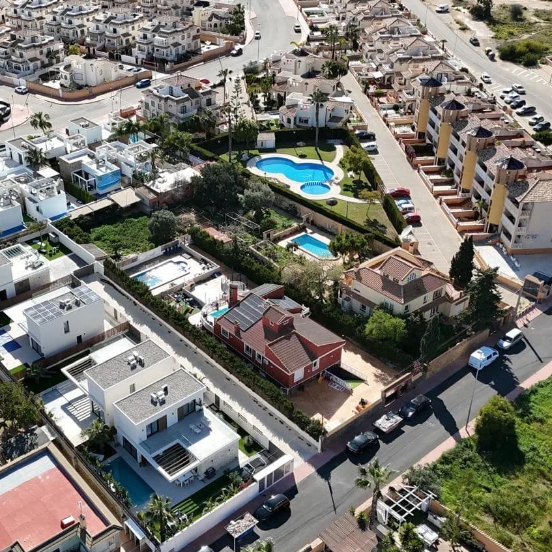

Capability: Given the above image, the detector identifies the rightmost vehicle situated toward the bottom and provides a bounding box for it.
[499,325,523,346]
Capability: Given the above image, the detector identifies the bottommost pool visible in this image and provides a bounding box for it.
[106,449,157,504]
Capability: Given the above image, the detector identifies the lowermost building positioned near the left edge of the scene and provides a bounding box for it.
[0,442,129,552]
